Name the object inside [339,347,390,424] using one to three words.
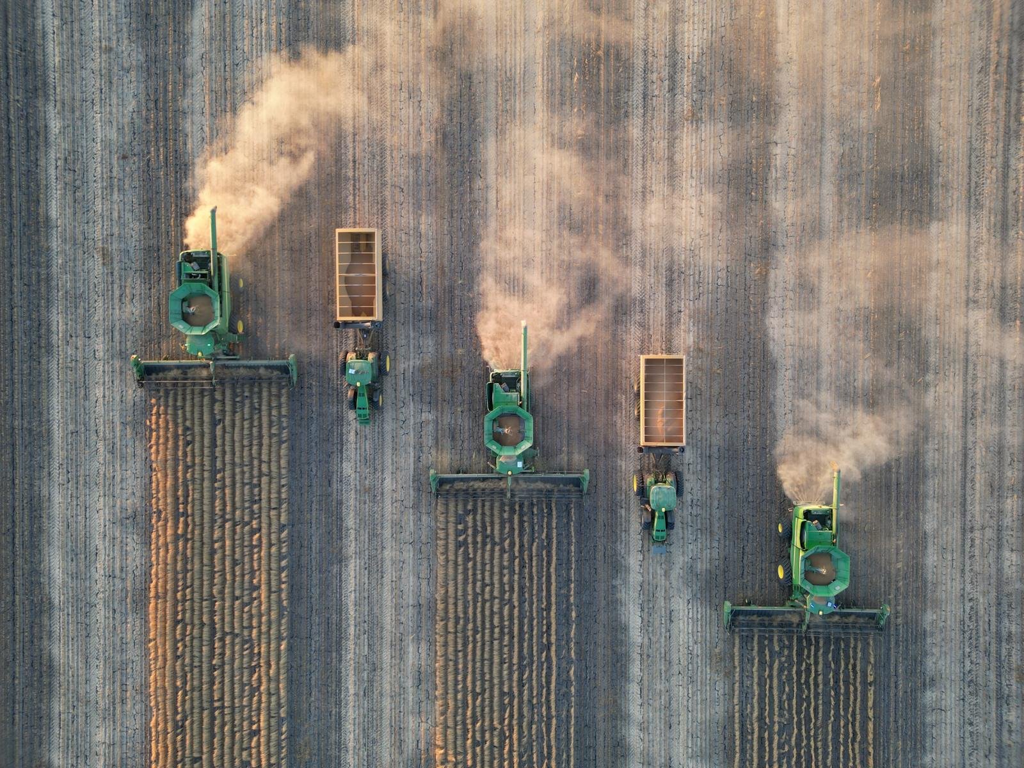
work vehicle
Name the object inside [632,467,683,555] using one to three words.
work vehicle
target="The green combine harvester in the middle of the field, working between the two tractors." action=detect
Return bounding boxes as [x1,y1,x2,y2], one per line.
[430,321,589,507]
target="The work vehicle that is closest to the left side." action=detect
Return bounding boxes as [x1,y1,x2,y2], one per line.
[131,200,295,392]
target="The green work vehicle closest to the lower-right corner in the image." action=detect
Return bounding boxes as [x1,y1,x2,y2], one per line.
[726,458,889,635]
